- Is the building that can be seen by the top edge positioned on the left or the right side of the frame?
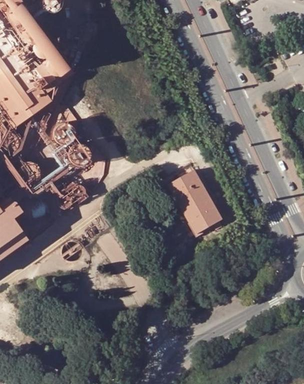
left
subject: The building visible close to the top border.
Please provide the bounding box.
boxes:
[0,0,72,127]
